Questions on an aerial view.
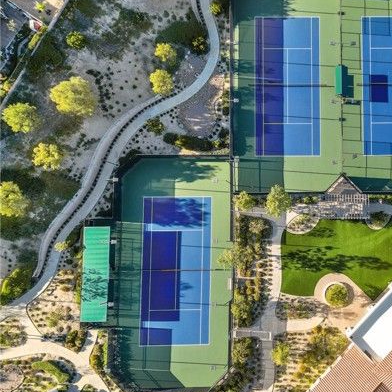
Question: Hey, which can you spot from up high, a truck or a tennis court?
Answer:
tennis court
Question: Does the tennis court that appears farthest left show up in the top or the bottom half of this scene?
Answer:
bottom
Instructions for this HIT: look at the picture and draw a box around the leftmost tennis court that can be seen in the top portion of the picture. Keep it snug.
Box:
[234,0,343,191]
